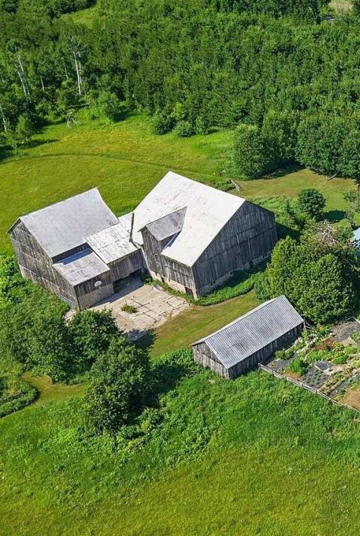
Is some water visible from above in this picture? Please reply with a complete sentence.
No, the picture contains no water.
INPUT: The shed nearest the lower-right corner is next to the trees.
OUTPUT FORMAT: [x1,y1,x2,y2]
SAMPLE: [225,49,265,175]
[186,294,308,379]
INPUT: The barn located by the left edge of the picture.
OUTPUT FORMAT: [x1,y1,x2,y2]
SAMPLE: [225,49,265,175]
[5,188,128,309]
